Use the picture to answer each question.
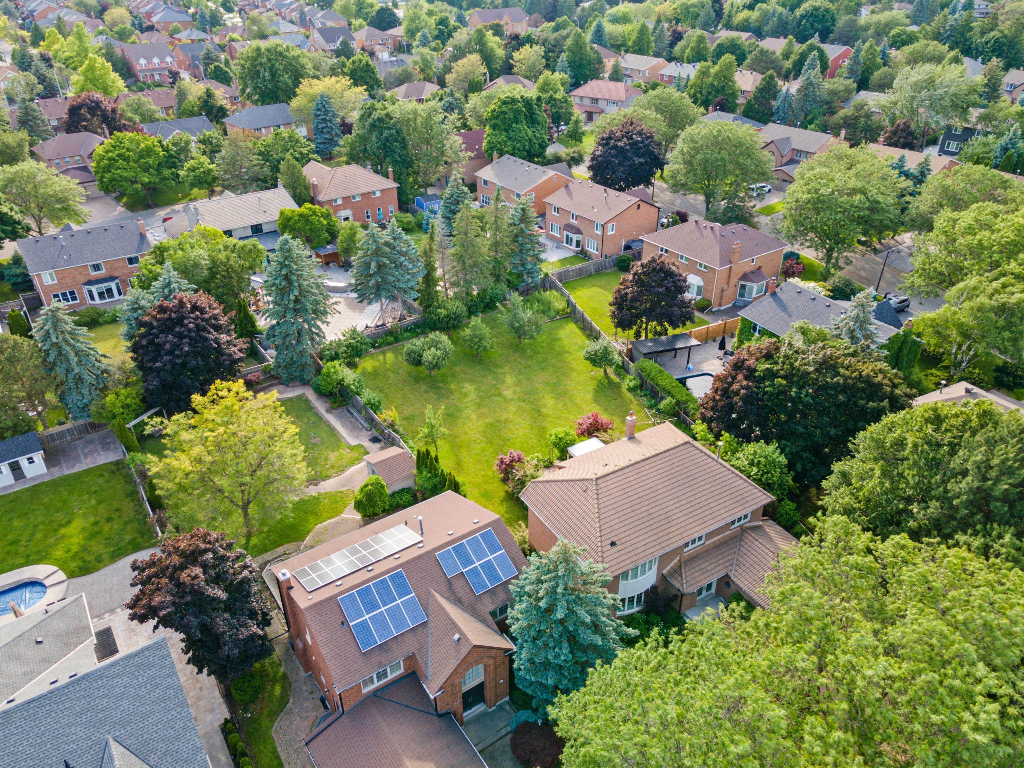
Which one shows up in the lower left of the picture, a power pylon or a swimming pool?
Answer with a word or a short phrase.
swimming pool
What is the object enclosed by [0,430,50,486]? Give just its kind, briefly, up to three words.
shed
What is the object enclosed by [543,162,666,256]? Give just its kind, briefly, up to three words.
house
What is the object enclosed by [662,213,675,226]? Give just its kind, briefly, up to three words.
vehicle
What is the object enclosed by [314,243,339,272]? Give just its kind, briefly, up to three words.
building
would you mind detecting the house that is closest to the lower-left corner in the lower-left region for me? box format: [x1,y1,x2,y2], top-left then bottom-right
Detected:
[0,593,214,768]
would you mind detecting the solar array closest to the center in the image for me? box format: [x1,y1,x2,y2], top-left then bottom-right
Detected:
[436,526,516,591]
